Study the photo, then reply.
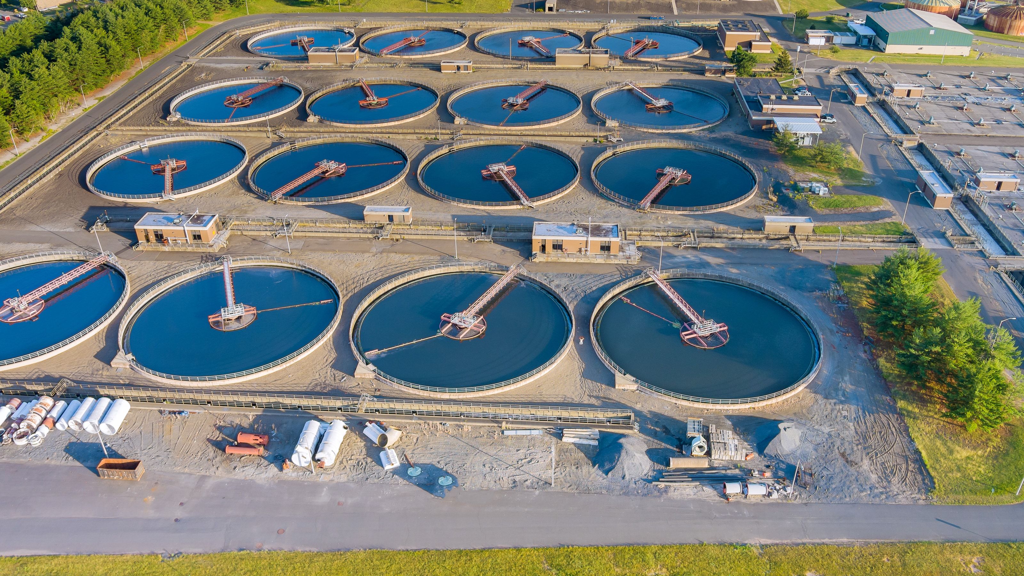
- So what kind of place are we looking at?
industrial area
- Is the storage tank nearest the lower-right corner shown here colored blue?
Yes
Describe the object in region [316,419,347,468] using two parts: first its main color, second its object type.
white storage tank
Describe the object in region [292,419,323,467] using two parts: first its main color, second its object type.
white storage tank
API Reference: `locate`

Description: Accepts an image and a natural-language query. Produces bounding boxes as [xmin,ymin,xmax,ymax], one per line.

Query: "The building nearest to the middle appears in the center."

[532,216,619,255]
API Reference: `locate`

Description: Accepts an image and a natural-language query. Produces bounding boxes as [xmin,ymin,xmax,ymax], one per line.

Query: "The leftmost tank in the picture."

[0,251,131,372]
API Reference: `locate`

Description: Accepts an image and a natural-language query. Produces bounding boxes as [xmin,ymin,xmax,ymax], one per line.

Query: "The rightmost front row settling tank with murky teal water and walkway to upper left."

[589,264,823,410]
